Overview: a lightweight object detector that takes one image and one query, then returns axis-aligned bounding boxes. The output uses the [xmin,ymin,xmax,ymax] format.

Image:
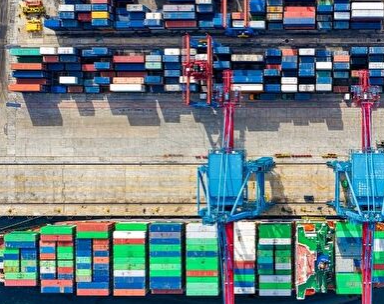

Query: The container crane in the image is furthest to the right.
[327,72,384,304]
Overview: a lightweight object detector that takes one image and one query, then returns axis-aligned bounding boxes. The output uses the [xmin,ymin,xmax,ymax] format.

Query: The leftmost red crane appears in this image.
[183,34,228,108]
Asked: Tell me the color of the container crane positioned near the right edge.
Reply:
blue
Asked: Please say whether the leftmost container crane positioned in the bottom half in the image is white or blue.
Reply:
blue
